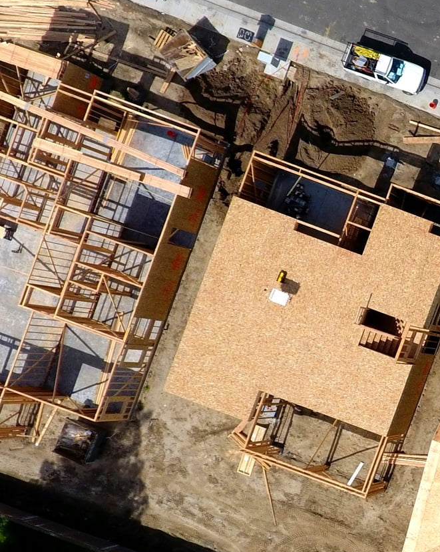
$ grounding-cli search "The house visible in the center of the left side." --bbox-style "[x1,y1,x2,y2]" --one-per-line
[0,24,230,446]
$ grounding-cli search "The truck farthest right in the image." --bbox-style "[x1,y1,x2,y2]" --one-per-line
[332,36,430,98]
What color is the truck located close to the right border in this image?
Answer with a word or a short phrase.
white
